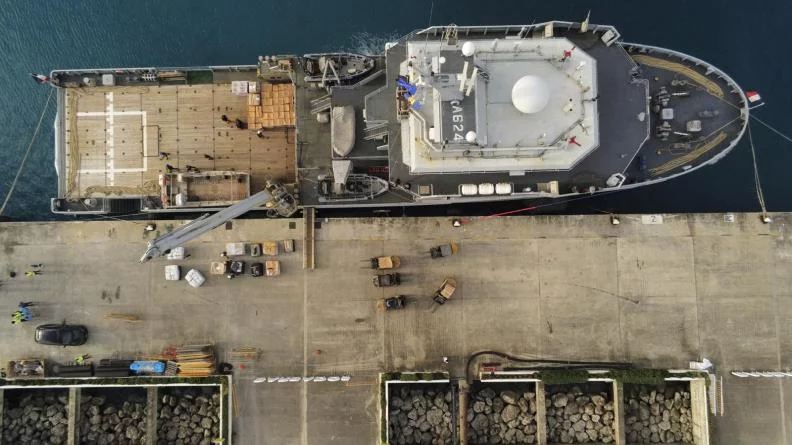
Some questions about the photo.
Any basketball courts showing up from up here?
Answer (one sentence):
No, I can see no basketball court in this picture.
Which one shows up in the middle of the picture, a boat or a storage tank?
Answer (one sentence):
The one visible in the middle of the picture is a boat.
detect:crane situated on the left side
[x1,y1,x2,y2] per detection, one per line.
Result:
[138,167,299,262]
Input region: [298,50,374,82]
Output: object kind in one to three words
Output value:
boat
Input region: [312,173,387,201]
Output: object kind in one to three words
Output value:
boat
